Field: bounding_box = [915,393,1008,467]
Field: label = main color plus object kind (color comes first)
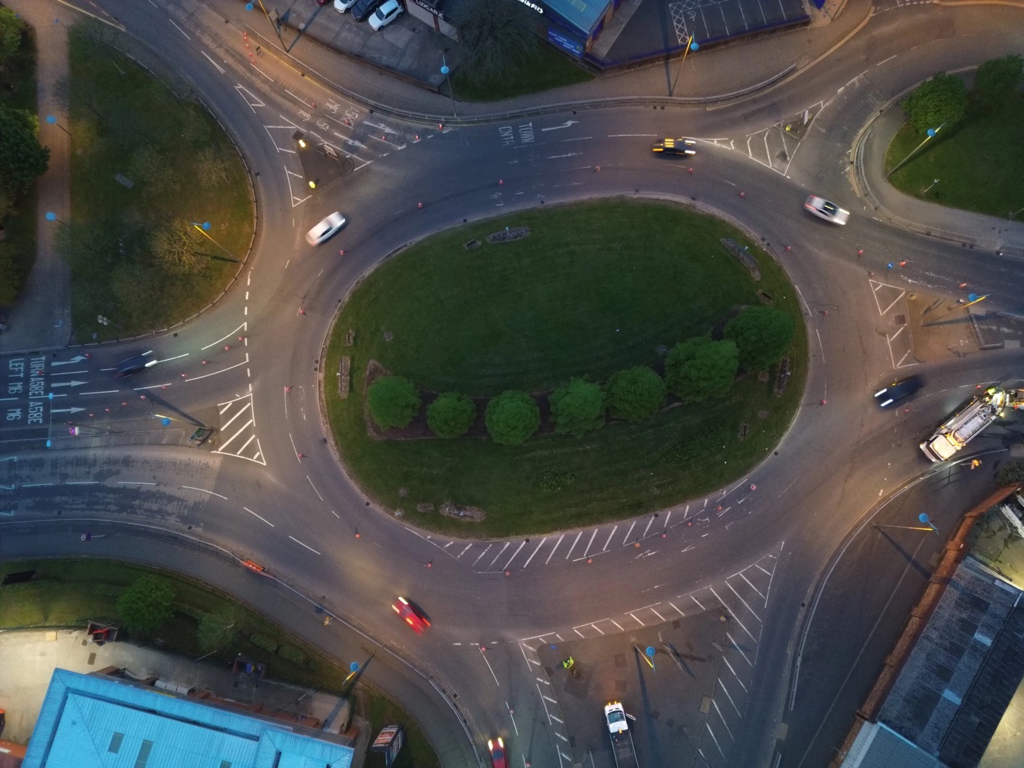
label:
white truck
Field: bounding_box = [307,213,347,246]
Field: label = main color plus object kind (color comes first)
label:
white car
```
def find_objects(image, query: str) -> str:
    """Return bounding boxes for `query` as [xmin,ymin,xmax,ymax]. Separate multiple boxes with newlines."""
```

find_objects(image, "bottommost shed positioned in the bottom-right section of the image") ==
[814,705,940,768]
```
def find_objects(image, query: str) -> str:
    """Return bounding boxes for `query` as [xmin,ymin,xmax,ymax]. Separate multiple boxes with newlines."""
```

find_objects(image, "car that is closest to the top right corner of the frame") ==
[805,197,848,225]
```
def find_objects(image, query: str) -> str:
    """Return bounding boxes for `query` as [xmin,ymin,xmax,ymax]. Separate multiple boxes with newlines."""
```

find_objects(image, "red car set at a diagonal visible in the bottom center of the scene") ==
[393,596,430,636]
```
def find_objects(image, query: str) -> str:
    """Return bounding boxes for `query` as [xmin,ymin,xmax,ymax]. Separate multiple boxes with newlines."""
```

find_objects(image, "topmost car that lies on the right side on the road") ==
[654,139,694,159]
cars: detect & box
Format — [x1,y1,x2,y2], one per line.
[352,0,388,20]
[876,377,922,404]
[115,352,156,377]
[335,0,360,12]
[654,139,694,159]
[805,197,848,225]
[315,0,333,7]
[486,736,508,768]
[307,213,347,246]
[369,0,405,29]
[393,596,430,636]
